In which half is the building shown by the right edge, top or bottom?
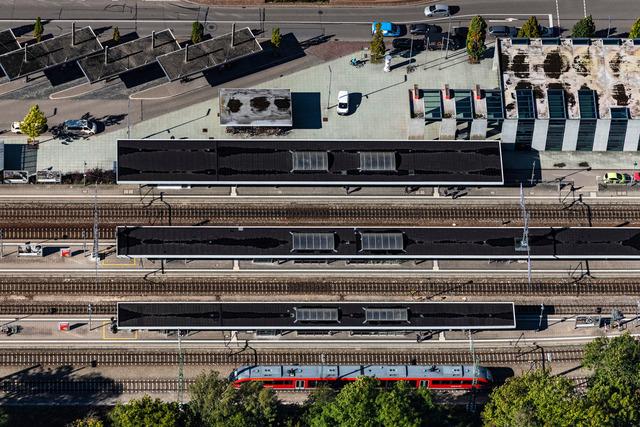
top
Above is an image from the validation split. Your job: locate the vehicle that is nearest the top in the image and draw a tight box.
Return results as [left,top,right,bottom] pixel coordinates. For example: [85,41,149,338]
[424,3,450,16]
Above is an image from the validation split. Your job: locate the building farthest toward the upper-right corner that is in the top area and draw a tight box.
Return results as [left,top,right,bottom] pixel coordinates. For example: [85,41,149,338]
[408,36,640,150]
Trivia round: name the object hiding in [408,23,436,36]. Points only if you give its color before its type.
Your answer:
black vehicle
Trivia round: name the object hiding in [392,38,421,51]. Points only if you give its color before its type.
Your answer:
black vehicle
